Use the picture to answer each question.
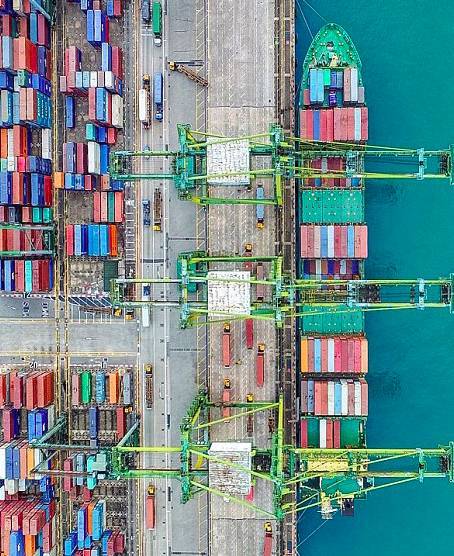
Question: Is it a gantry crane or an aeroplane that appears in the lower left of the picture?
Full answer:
What appears in the lower left of the picture is a gantry crane.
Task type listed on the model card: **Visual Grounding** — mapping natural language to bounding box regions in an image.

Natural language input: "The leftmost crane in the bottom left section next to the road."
[28,412,140,477]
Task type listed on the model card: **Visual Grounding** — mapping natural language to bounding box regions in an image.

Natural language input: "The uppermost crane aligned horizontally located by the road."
[107,121,454,217]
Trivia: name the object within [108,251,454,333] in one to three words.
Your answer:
container crane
